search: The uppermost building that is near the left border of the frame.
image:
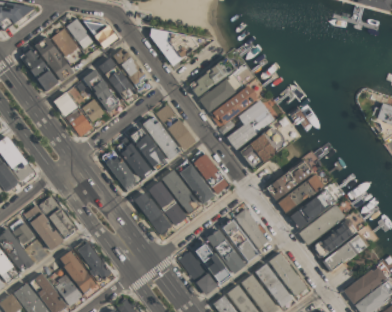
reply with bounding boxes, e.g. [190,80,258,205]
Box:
[0,2,34,30]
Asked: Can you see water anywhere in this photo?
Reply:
Yes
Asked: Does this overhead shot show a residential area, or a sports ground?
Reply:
residential area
